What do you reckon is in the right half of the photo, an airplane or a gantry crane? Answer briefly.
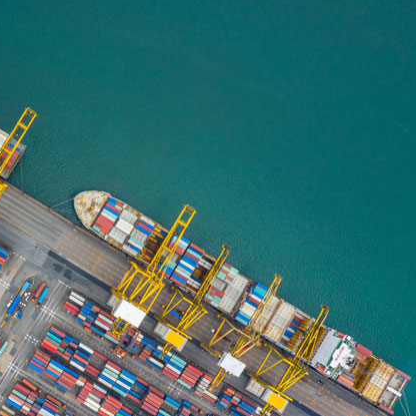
gantry crane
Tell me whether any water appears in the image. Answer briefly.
Yes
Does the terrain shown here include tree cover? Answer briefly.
No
